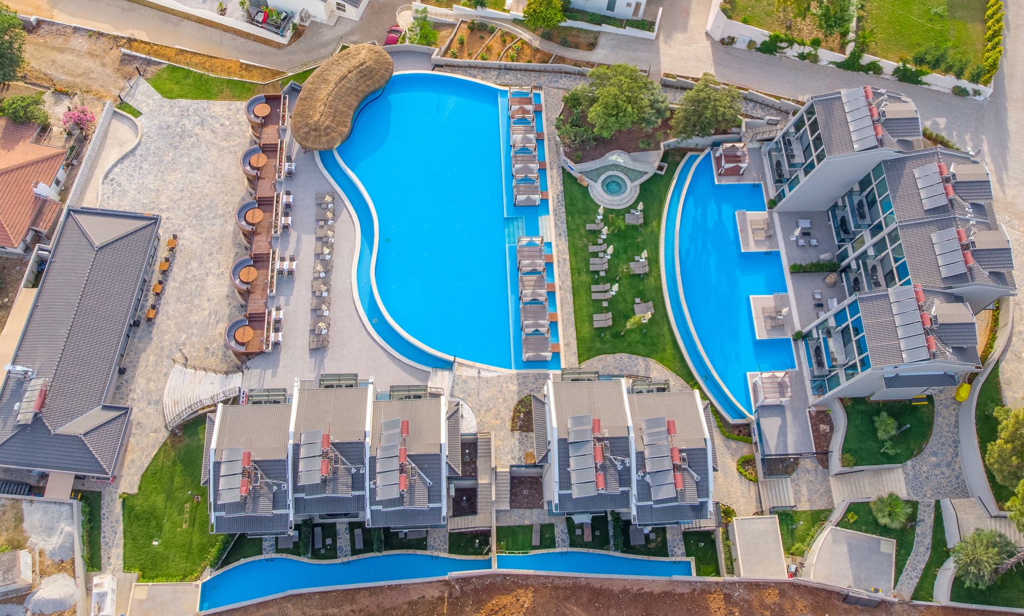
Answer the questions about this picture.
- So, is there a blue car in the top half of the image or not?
No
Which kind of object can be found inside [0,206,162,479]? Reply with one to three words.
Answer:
building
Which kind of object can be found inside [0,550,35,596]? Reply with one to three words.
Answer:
shed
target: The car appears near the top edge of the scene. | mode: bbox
[379,20,406,49]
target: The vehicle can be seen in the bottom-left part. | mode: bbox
[91,574,119,616]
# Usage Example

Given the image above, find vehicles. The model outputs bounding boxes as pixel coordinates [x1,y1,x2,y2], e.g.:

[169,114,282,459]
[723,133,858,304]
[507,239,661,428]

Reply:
[379,20,406,49]
[91,574,119,616]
